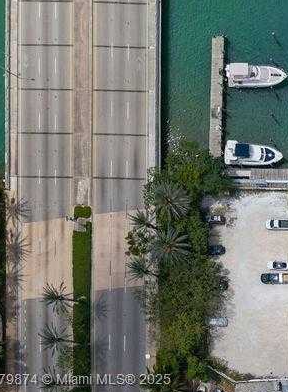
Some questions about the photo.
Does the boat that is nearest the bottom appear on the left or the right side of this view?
right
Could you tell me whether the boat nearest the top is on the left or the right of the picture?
right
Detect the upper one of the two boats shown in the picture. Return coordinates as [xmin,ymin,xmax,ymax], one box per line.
[226,61,288,89]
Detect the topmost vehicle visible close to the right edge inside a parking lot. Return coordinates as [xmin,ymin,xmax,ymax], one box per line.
[268,219,288,231]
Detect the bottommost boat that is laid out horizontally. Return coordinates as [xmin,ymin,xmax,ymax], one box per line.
[224,142,284,169]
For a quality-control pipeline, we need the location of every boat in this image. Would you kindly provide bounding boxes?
[226,61,288,89]
[224,142,284,169]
